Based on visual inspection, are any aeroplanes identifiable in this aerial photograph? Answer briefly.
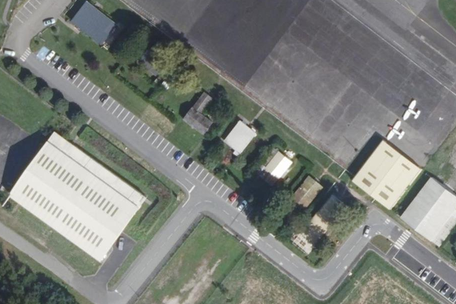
Yes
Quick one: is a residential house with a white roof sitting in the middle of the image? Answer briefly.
Yes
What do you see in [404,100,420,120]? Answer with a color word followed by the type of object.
white airplane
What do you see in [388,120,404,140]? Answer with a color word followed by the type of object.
white airplane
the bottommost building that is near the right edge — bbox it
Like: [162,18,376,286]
[400,177,456,246]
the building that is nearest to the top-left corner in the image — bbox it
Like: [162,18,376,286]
[71,1,115,45]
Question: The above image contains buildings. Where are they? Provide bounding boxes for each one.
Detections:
[294,175,323,206]
[293,232,312,254]
[264,152,293,178]
[184,92,213,135]
[10,132,146,261]
[400,177,456,246]
[71,1,115,45]
[224,120,256,154]
[352,140,422,210]
[311,194,346,232]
